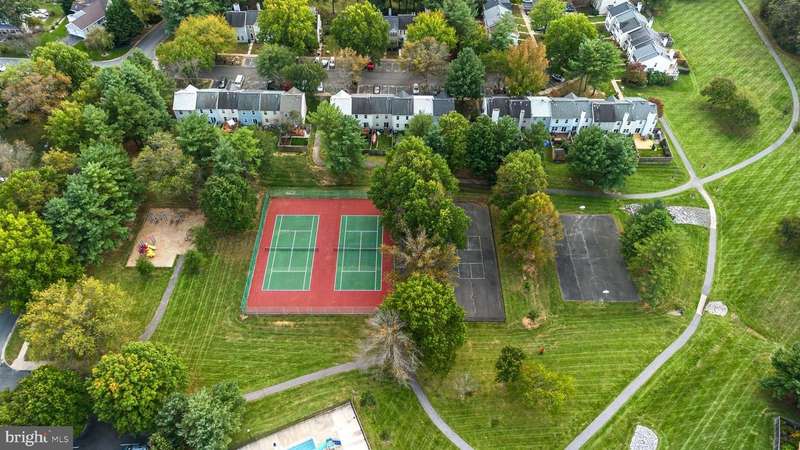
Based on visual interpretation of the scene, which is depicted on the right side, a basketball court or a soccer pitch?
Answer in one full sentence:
The feature located on the right side is a basketball court.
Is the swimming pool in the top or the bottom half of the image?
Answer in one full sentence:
The bottom half of the photo is where the swimming pool is.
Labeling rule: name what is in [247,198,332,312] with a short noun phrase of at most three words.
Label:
tennis court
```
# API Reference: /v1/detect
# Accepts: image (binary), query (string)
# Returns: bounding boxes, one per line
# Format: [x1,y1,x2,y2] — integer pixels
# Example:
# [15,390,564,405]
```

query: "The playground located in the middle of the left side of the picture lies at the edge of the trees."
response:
[126,207,207,267]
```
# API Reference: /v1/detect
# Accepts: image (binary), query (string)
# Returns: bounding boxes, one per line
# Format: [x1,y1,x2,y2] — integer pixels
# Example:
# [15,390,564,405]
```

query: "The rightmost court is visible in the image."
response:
[544,213,637,301]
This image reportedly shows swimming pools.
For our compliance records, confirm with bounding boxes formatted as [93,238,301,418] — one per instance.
[238,403,370,450]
